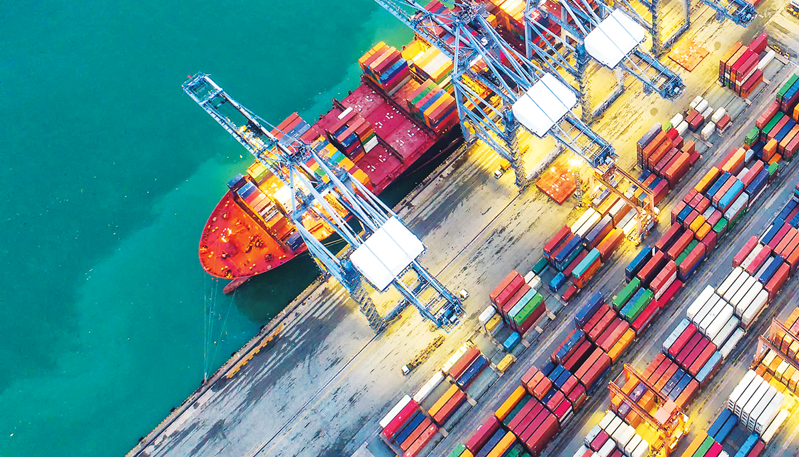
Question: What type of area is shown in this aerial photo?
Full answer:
This looks like a port.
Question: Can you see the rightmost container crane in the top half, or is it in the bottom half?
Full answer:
The bottom half of the photo is where the rightmost container crane is.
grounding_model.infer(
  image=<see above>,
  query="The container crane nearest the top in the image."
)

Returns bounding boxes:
[602,0,760,59]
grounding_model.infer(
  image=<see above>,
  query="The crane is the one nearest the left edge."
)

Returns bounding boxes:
[176,67,473,343]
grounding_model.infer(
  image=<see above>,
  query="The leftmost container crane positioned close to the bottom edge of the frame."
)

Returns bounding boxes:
[605,360,691,457]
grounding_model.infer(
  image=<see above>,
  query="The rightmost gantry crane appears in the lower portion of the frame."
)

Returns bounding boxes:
[751,313,799,370]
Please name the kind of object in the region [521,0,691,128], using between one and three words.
container crane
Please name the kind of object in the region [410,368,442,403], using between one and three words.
shipping container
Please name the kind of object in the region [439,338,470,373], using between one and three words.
shipping container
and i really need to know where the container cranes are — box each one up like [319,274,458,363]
[521,0,691,128]
[372,0,623,197]
[751,313,799,370]
[605,360,691,457]
[176,67,473,343]
[588,161,662,243]
[602,0,760,59]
